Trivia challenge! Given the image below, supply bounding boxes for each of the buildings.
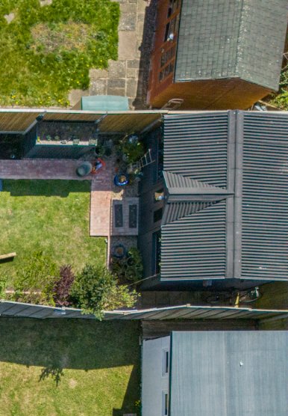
[142,331,288,416]
[140,112,288,290]
[148,0,283,109]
